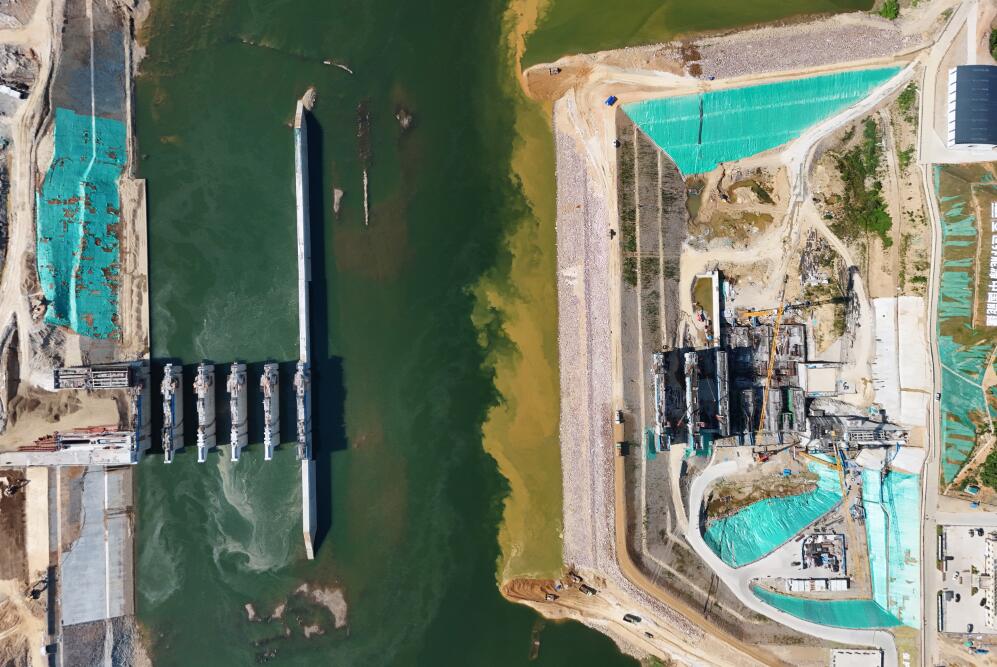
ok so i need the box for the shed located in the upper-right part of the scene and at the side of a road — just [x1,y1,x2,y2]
[944,64,997,150]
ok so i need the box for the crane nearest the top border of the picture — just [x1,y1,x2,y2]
[737,256,799,442]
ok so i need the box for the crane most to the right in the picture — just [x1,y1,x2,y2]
[796,430,854,504]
